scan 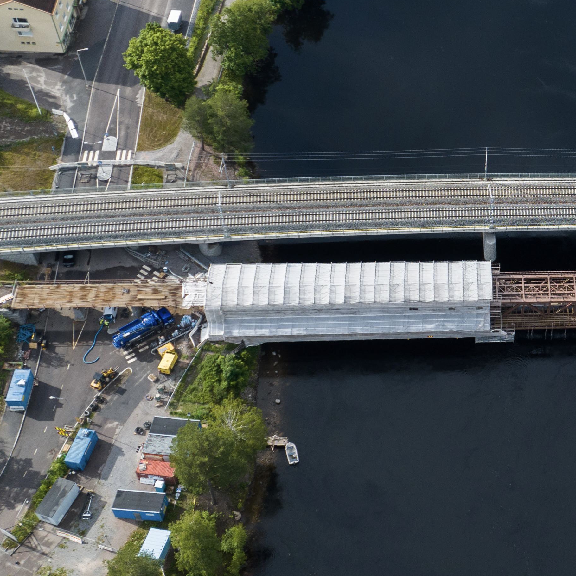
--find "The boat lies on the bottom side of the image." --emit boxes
[286,441,299,466]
